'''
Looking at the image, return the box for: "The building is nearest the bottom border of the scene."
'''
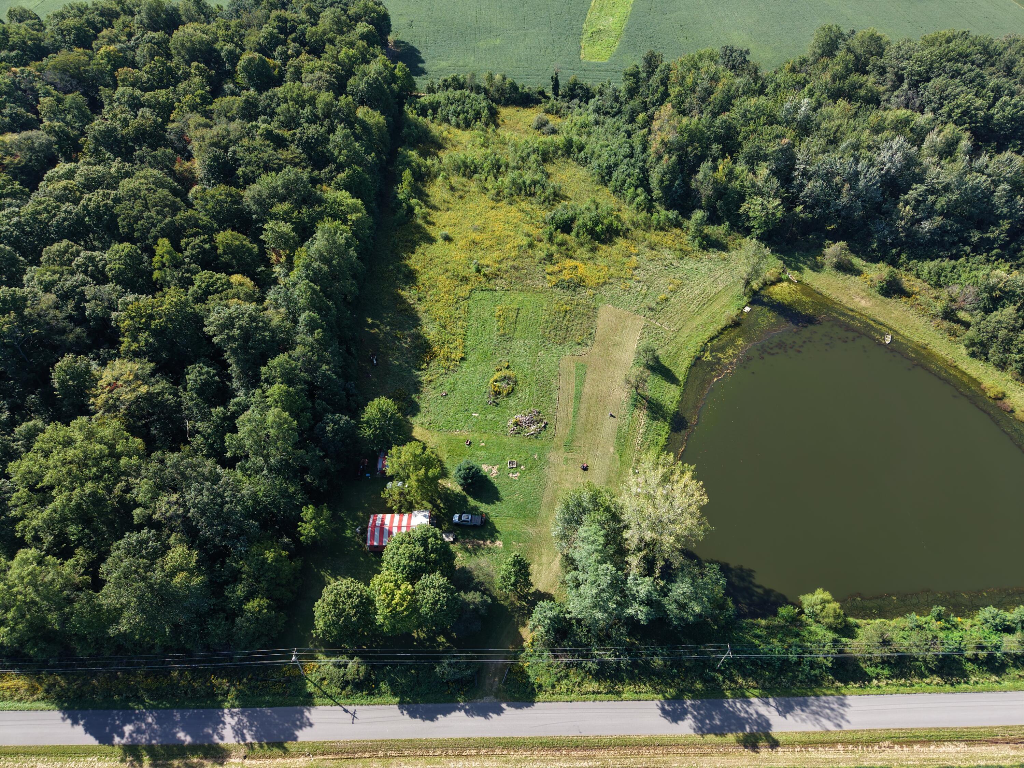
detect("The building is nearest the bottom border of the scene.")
[367,508,430,551]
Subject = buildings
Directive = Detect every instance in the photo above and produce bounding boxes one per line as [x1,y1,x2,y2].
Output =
[367,508,430,551]
[376,451,401,475]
